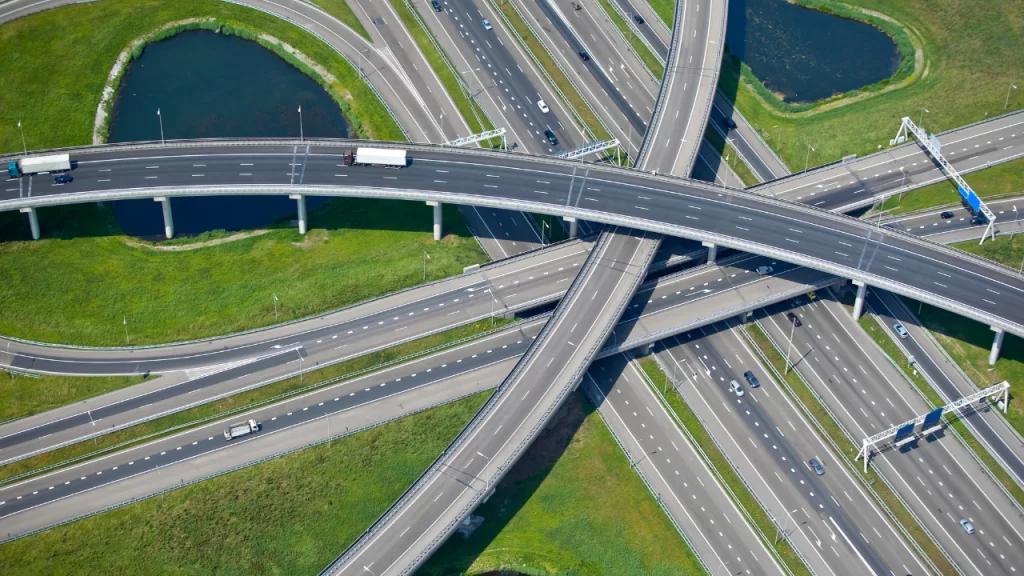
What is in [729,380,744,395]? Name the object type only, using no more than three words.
car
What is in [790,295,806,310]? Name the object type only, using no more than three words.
car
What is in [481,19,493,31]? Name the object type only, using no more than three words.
vehicle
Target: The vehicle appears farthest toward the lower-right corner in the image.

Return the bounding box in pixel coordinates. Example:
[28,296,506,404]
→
[958,517,977,535]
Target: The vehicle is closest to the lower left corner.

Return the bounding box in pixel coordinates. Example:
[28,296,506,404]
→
[225,418,261,437]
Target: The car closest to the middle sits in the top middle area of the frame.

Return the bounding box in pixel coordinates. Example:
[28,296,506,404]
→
[544,129,557,142]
